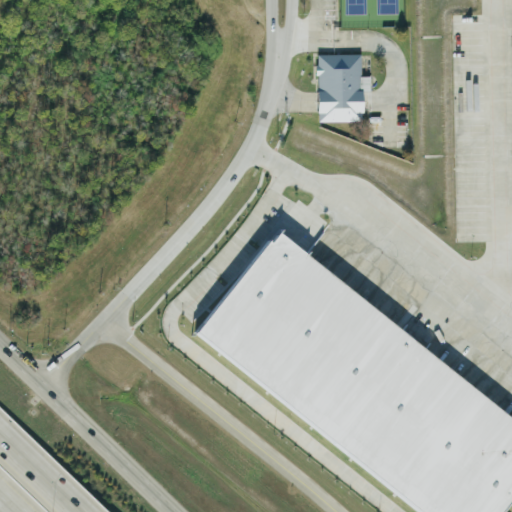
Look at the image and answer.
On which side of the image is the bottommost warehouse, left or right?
right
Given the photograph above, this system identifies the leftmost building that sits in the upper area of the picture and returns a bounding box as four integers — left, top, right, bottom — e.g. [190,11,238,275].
[315,54,372,123]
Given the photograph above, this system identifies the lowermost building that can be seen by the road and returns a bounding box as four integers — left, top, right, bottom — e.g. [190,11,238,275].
[195,229,512,512]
